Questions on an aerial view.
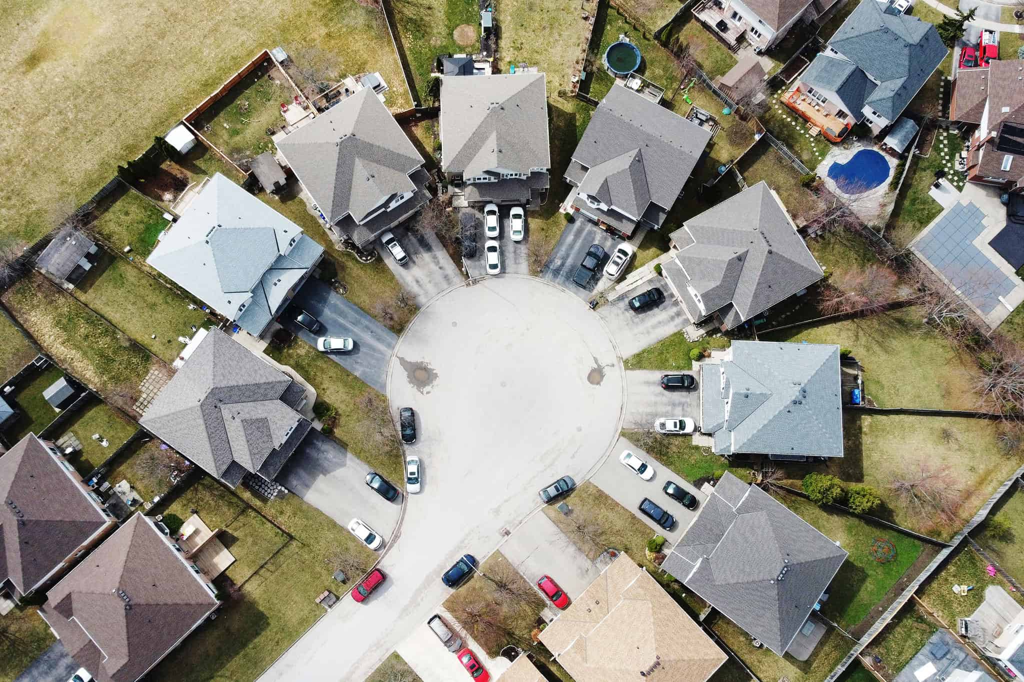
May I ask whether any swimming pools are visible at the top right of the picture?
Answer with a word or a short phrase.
Yes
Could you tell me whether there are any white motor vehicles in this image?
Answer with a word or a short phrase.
Yes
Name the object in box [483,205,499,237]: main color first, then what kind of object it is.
white car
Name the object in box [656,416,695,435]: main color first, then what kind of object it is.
white car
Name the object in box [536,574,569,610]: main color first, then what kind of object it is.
red car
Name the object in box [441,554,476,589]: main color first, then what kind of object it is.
blue car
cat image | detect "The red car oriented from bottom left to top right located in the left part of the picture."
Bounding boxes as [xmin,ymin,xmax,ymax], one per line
[351,568,386,601]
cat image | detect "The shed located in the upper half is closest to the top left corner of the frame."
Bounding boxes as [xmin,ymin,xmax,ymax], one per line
[164,124,202,162]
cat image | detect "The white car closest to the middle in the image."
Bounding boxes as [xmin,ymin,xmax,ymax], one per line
[484,241,501,274]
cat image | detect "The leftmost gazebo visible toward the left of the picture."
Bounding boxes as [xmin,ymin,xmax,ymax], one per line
[0,393,27,427]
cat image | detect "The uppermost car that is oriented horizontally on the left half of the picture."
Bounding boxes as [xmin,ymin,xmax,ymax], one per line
[318,335,354,352]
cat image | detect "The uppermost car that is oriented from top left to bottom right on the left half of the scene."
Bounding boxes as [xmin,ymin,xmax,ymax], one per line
[380,232,408,266]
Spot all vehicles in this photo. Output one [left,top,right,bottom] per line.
[958,45,978,70]
[483,205,499,237]
[536,574,569,610]
[484,241,501,274]
[629,288,664,310]
[441,554,476,589]
[663,479,698,511]
[425,614,465,654]
[351,568,386,601]
[365,471,400,504]
[287,303,322,335]
[661,372,695,389]
[404,456,422,493]
[380,232,408,266]
[538,476,576,507]
[977,27,999,66]
[347,517,383,553]
[508,208,525,241]
[399,408,417,443]
[618,447,654,482]
[656,416,695,435]
[604,244,631,279]
[318,335,354,352]
[572,245,606,286]
[638,496,676,532]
